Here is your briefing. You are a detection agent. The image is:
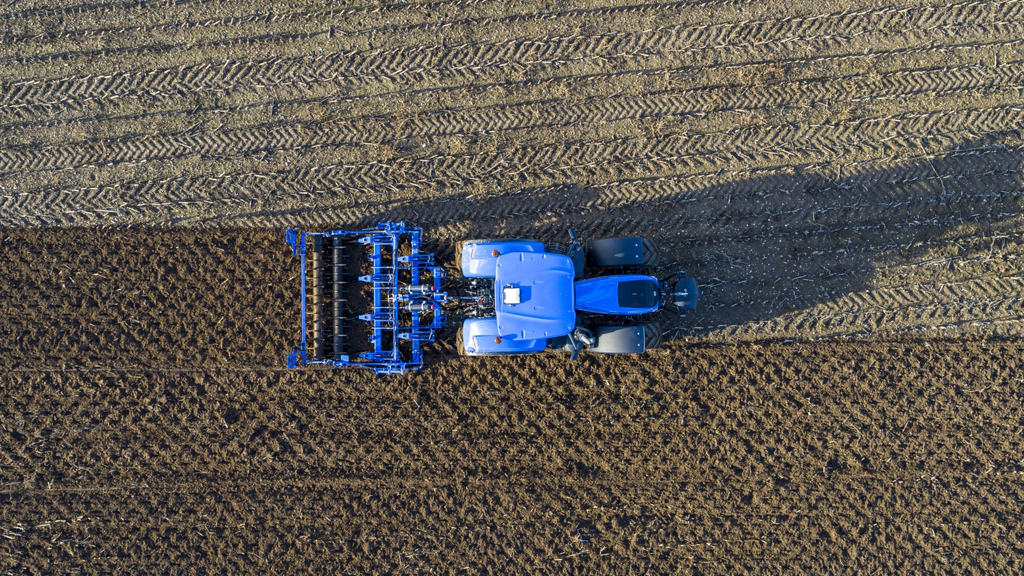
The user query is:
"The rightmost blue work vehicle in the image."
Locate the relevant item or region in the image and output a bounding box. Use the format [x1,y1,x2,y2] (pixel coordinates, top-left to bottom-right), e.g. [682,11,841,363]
[444,227,686,360]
